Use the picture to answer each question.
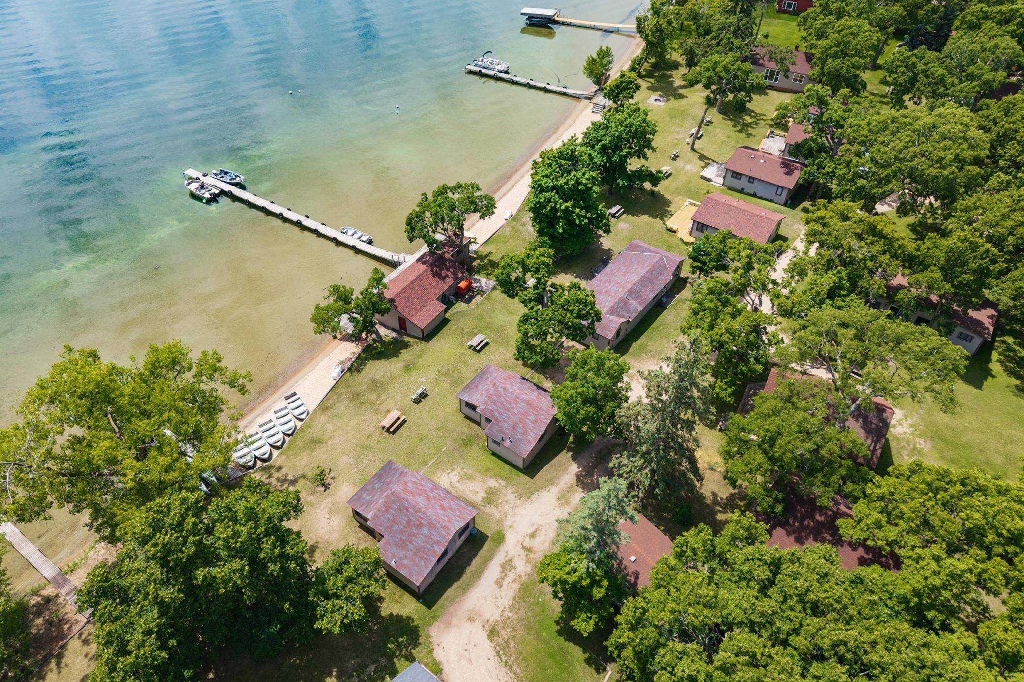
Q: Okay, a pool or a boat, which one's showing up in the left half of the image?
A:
boat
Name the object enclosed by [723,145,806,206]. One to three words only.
house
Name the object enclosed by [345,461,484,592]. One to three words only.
building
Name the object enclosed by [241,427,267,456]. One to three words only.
boat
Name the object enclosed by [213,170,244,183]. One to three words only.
boat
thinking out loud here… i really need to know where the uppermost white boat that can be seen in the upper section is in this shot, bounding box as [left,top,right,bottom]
[471,52,510,74]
